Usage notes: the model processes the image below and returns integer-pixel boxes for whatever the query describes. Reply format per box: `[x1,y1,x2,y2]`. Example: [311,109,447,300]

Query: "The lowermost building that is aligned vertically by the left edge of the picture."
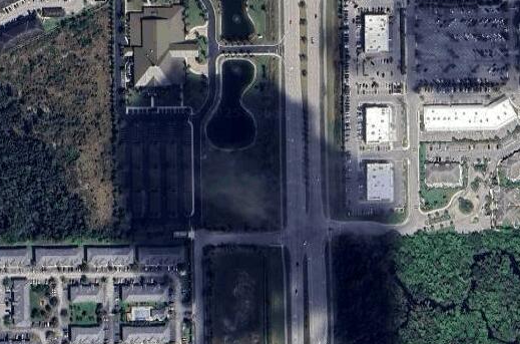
[12,279,32,328]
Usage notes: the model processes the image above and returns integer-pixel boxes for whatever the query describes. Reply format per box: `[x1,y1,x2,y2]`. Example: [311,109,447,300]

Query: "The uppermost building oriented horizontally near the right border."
[424,97,519,130]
